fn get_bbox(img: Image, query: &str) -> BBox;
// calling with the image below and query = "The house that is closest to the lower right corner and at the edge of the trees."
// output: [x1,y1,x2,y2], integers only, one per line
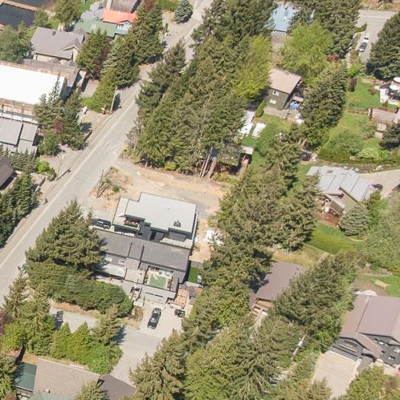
[326,294,400,371]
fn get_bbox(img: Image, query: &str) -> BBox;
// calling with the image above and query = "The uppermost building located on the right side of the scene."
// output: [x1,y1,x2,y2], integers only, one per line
[264,5,301,45]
